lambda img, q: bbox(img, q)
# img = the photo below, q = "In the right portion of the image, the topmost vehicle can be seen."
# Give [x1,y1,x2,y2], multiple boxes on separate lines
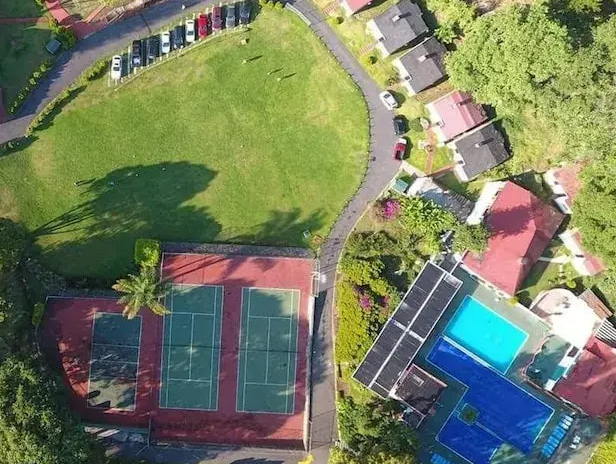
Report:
[377,88,398,112]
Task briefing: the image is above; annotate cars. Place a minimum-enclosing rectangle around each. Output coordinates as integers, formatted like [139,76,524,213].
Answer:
[238,1,251,26]
[198,15,208,39]
[225,5,236,30]
[212,6,223,31]
[160,32,171,54]
[185,19,195,43]
[111,55,122,80]
[131,41,142,65]
[146,37,158,63]
[393,115,405,137]
[173,24,185,51]
[377,88,398,112]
